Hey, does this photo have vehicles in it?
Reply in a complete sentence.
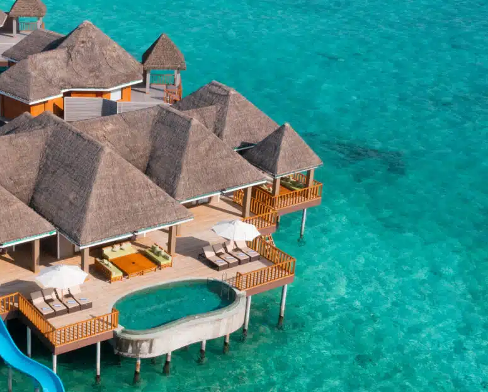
No, this view has no vehicle in it.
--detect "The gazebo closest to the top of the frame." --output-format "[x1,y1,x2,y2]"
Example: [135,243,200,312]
[11,0,46,38]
